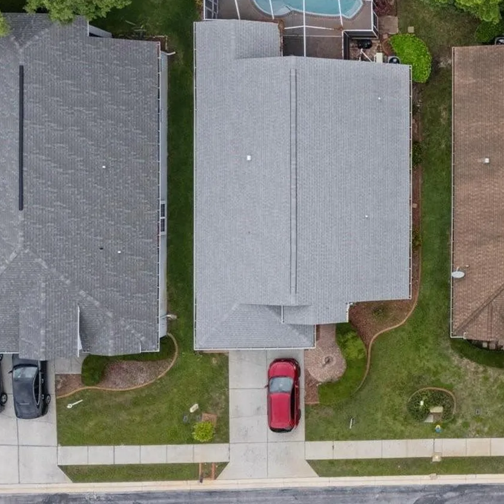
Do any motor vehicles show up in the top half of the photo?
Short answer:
No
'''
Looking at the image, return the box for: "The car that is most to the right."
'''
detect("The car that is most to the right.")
[263,359,302,430]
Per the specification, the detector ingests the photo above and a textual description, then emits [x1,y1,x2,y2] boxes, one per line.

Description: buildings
[192,18,415,352]
[450,45,504,340]
[0,12,177,361]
